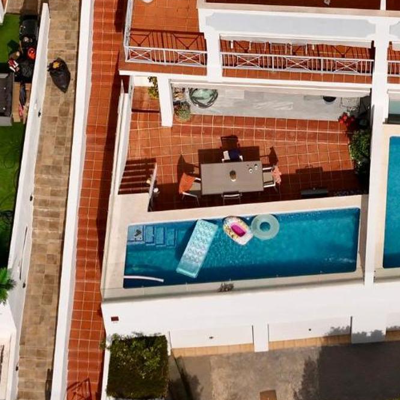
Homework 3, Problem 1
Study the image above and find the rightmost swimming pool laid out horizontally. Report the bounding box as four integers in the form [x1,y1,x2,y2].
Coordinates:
[103,195,368,293]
